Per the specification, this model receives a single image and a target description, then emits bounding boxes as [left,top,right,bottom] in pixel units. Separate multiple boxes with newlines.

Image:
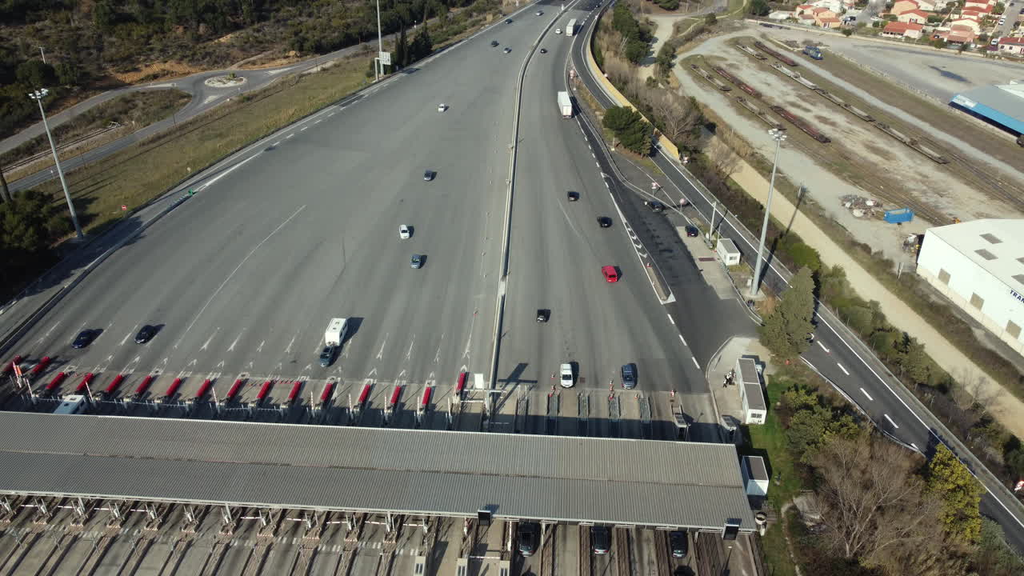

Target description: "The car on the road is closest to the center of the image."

[537,309,550,325]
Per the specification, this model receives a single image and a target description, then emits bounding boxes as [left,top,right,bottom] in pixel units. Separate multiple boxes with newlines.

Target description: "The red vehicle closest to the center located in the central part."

[604,267,616,282]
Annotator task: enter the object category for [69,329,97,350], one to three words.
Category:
car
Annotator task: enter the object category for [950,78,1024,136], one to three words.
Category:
building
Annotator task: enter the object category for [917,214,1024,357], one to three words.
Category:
building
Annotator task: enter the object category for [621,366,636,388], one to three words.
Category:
car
